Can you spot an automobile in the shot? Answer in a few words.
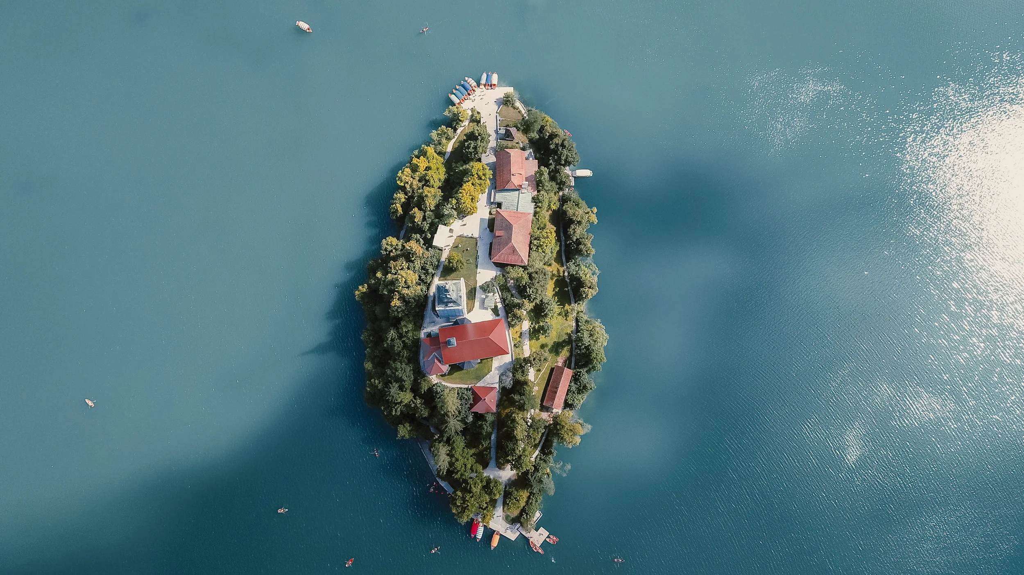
No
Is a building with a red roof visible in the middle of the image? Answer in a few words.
Yes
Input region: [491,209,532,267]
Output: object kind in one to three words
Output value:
house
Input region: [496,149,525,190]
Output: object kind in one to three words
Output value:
house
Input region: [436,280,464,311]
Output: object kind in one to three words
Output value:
building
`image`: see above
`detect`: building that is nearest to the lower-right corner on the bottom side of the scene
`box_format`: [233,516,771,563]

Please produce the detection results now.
[544,366,573,410]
